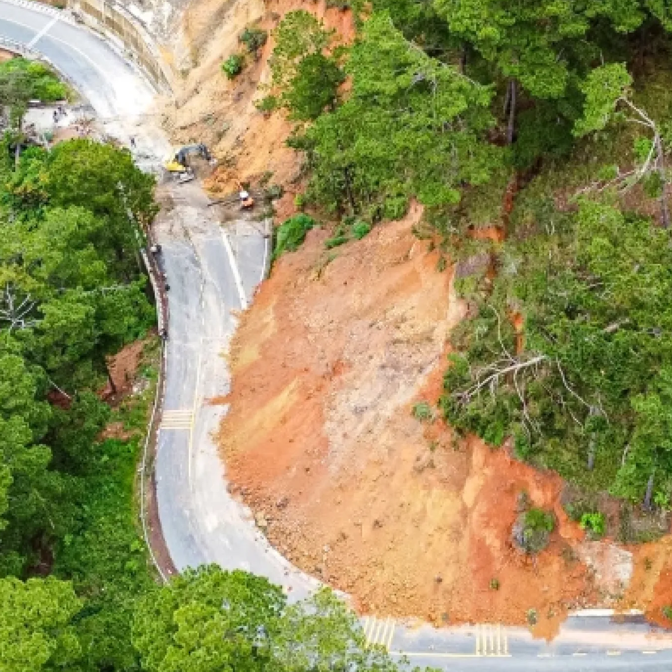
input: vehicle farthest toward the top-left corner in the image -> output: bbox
[163,149,217,182]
